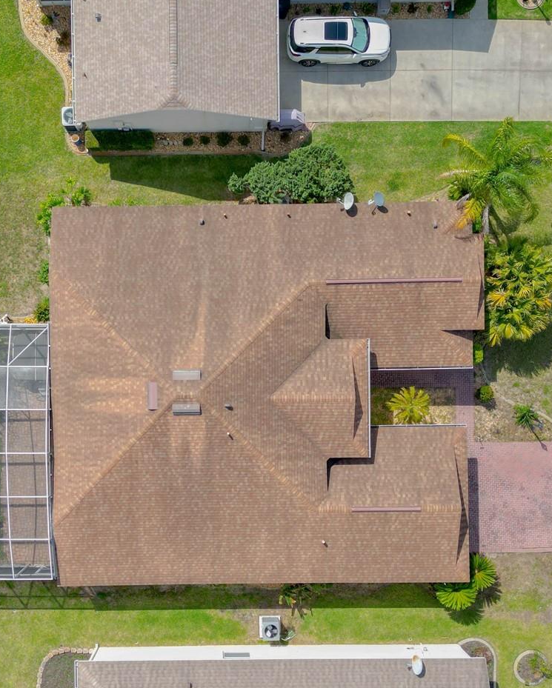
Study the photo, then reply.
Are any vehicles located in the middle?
No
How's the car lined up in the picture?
from left to right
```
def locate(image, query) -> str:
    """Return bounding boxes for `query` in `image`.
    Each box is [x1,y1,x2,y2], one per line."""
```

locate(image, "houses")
[38,0,377,153]
[74,646,490,688]
[46,200,486,586]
